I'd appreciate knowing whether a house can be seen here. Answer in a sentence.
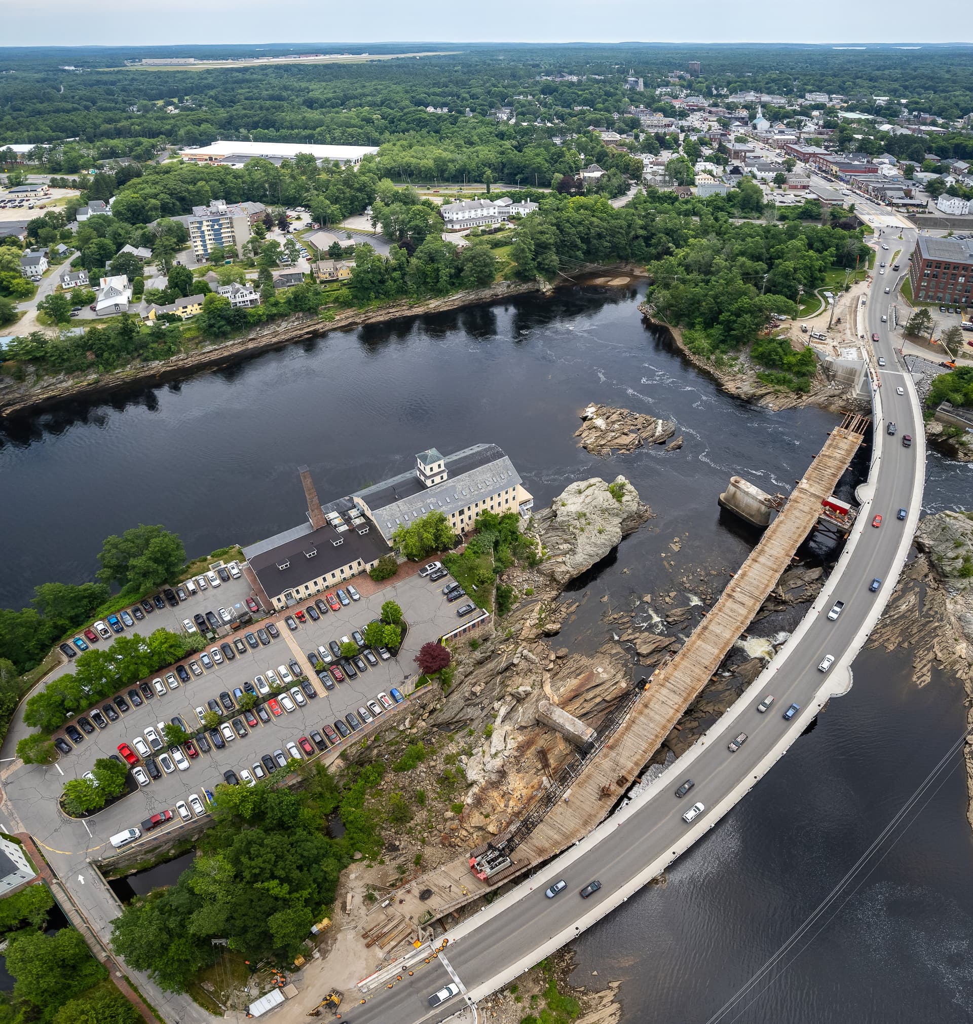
Yes, I can see a house in this picture.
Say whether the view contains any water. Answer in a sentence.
Yes, there's water in this view.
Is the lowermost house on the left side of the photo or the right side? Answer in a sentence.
The lowermost house sits on the left side.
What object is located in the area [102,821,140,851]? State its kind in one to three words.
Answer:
van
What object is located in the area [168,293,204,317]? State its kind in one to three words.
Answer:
house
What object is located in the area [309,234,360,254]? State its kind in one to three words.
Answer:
building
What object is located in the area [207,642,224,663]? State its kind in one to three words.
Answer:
car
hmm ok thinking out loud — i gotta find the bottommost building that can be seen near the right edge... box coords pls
[907,219,973,308]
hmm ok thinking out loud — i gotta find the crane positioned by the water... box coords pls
[464,679,644,894]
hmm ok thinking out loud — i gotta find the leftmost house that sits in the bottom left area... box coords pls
[0,789,47,891]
